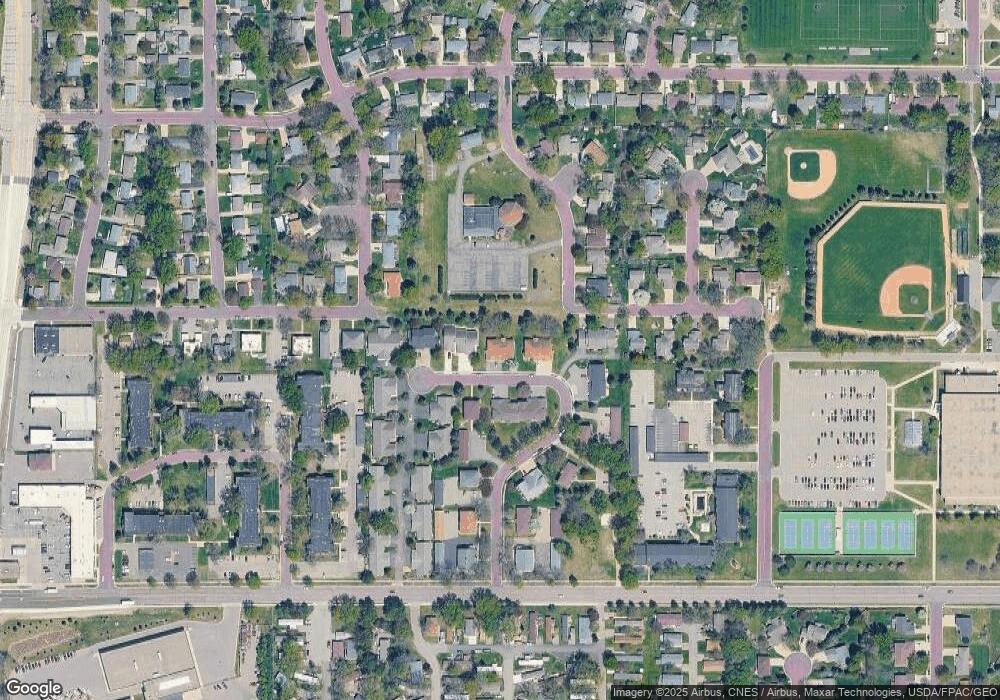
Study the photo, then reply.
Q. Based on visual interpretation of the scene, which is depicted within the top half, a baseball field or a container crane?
baseball field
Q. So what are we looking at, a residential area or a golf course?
residential area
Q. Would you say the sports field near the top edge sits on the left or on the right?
right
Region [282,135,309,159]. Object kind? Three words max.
house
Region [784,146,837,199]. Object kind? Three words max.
baseball field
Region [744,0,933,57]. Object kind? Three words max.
sports field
